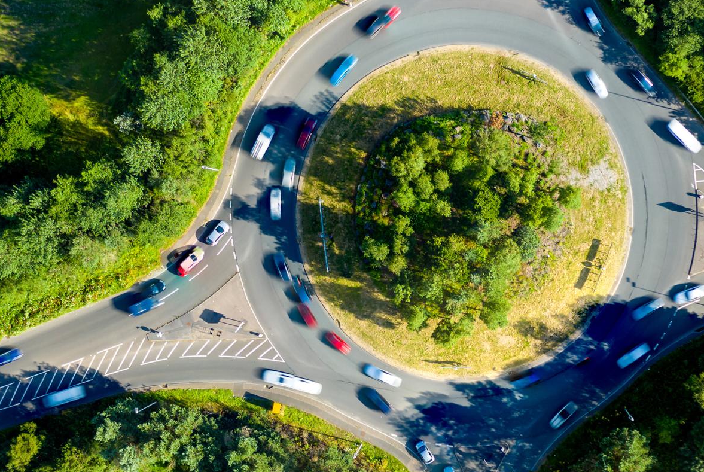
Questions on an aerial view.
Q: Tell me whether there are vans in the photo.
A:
Yes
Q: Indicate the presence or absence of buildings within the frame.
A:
No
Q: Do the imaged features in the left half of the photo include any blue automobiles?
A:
Yes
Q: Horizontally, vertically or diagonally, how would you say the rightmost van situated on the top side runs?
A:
diagonally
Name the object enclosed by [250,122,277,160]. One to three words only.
vehicle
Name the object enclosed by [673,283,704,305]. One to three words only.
car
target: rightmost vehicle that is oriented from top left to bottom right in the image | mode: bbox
[667,118,700,154]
